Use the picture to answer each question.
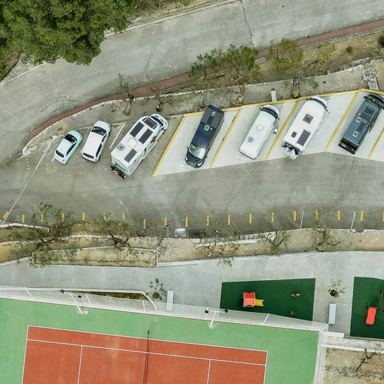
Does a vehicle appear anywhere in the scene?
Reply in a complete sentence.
Yes, the frame does contain a vehicle.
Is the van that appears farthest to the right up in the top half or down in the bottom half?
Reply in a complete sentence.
The van that appears farthest to the right sits in the top half of the picture.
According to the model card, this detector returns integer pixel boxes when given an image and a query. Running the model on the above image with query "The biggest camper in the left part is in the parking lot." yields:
[111,112,170,175]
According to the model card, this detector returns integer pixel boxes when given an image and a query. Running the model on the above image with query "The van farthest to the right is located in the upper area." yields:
[339,91,384,155]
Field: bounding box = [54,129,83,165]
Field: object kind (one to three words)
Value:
car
